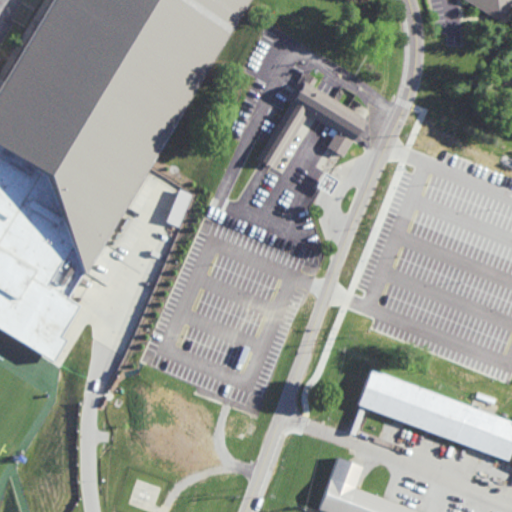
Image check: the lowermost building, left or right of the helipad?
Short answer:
right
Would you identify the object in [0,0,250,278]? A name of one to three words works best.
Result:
building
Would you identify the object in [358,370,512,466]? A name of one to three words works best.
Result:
building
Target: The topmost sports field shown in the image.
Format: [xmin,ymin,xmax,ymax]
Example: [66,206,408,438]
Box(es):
[0,345,61,479]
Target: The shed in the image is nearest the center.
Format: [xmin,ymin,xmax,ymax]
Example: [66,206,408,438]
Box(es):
[166,189,194,231]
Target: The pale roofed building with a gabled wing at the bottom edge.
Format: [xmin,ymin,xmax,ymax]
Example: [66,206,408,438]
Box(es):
[318,458,412,512]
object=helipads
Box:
[129,478,161,512]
